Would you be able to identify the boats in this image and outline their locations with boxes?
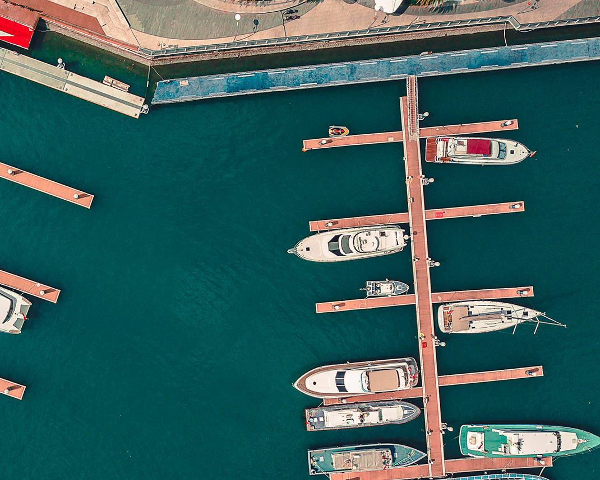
[437,300,565,333]
[328,124,350,138]
[0,286,32,333]
[425,135,536,166]
[359,278,410,296]
[305,401,420,431]
[287,225,409,263]
[293,356,419,398]
[307,442,427,475]
[456,423,600,458]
